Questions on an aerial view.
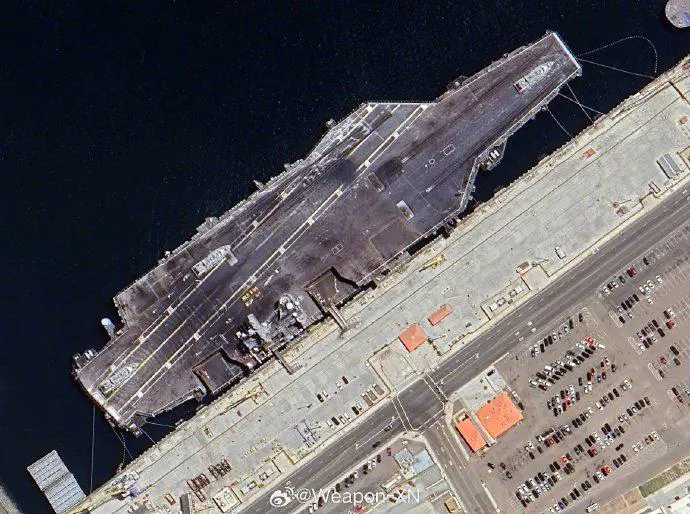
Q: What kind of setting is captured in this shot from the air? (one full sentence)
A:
This looks like a port.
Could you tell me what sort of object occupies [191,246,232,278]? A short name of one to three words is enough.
boat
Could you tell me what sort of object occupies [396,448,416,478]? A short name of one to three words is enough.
building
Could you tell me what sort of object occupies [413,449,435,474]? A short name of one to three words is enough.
building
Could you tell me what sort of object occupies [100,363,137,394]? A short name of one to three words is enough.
boat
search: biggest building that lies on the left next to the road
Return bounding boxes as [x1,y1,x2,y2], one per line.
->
[214,487,241,513]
